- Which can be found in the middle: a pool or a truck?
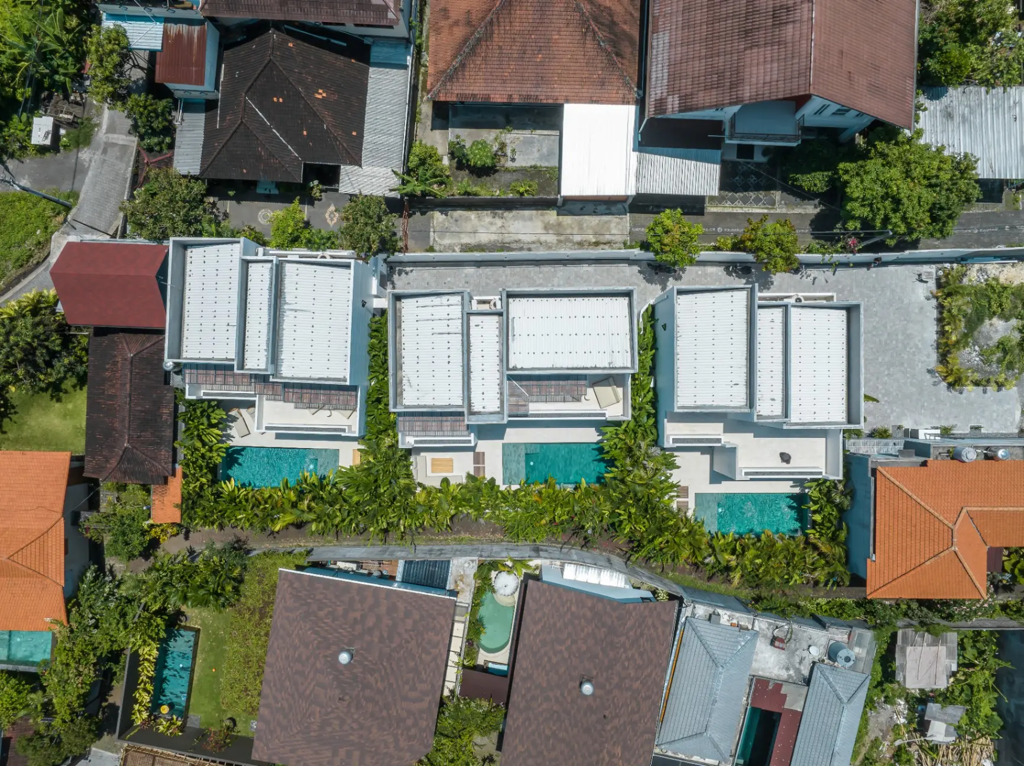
pool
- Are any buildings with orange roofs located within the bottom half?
Yes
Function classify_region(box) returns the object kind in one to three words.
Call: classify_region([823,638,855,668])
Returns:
water tank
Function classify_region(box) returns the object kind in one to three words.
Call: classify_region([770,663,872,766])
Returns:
house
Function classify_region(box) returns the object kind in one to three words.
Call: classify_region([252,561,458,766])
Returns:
house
